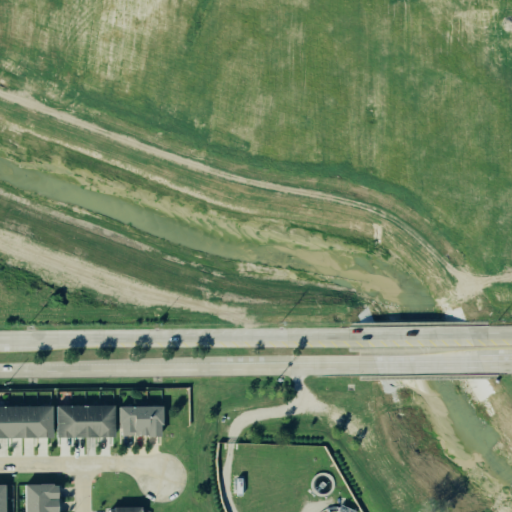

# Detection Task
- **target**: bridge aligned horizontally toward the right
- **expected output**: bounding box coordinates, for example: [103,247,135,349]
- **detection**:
[350,322,512,379]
